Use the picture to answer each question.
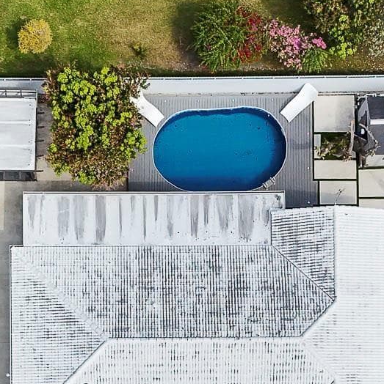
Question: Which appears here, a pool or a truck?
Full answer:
It is a pool that can be seen here.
